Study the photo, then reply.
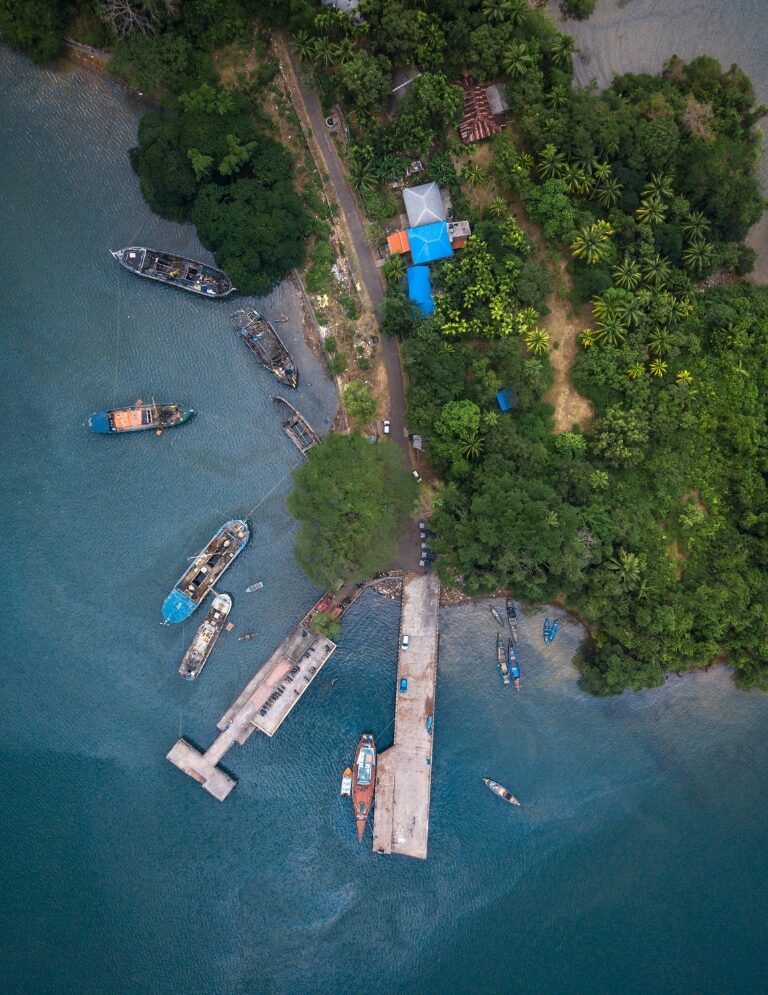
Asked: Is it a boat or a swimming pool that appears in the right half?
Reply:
boat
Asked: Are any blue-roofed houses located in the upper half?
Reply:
Yes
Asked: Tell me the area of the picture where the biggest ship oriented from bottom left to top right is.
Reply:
left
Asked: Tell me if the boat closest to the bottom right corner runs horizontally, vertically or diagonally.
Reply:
diagonally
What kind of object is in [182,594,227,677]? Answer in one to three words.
ship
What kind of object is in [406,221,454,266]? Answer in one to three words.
house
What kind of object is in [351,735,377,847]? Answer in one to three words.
ship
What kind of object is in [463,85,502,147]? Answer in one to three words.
house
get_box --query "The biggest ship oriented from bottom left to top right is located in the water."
[160,520,251,625]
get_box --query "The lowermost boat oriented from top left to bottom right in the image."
[484,778,520,806]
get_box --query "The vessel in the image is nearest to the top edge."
[107,245,238,298]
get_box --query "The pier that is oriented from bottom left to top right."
[166,575,402,801]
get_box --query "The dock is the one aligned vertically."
[373,576,440,859]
